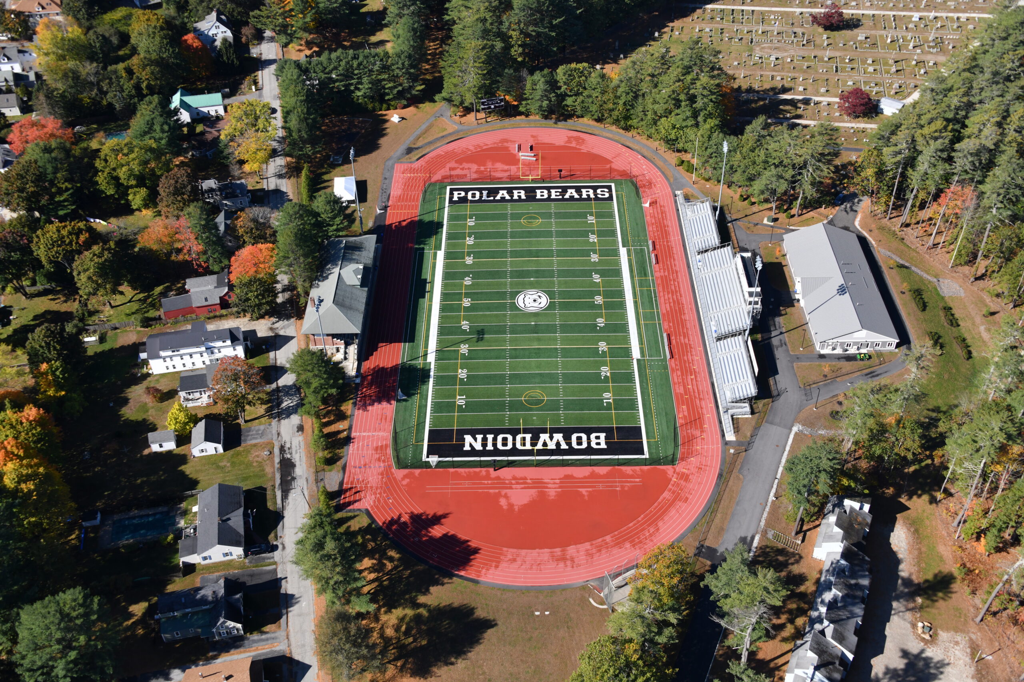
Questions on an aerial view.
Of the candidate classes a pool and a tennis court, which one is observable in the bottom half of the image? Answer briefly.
pool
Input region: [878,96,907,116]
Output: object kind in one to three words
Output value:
shed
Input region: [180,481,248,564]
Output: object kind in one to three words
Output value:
house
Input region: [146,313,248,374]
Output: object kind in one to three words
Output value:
house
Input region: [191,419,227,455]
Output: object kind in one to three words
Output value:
building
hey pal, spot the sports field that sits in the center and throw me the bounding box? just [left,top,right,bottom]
[391,178,680,469]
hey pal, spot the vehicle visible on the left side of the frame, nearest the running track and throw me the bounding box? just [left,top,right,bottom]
[247,544,272,557]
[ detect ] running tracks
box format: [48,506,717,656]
[332,126,728,592]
